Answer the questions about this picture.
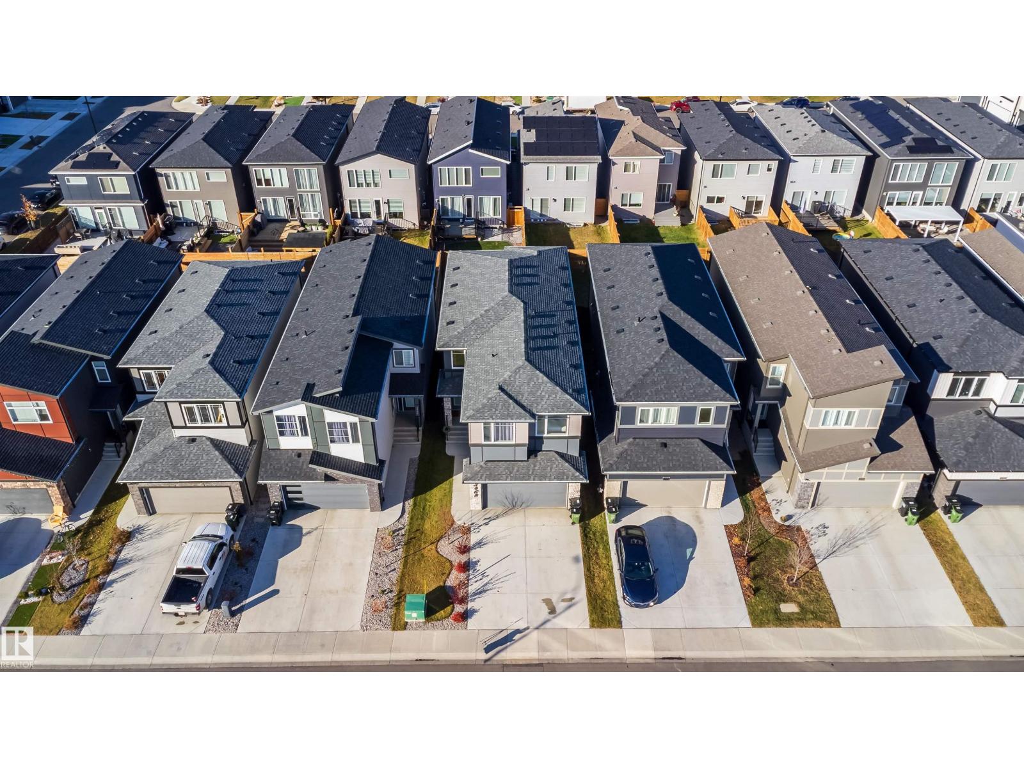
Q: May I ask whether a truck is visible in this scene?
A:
Yes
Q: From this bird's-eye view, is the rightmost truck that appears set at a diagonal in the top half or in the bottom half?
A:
bottom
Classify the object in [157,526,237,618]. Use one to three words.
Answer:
truck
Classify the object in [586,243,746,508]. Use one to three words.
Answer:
house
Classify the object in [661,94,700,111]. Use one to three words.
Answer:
car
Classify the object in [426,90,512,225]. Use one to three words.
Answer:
house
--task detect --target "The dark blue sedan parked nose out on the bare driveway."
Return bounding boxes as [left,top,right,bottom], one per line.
[615,530,663,606]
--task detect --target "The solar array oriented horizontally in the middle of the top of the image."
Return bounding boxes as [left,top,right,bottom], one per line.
[523,117,603,154]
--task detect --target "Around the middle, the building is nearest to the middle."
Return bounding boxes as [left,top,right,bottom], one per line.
[435,247,591,509]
